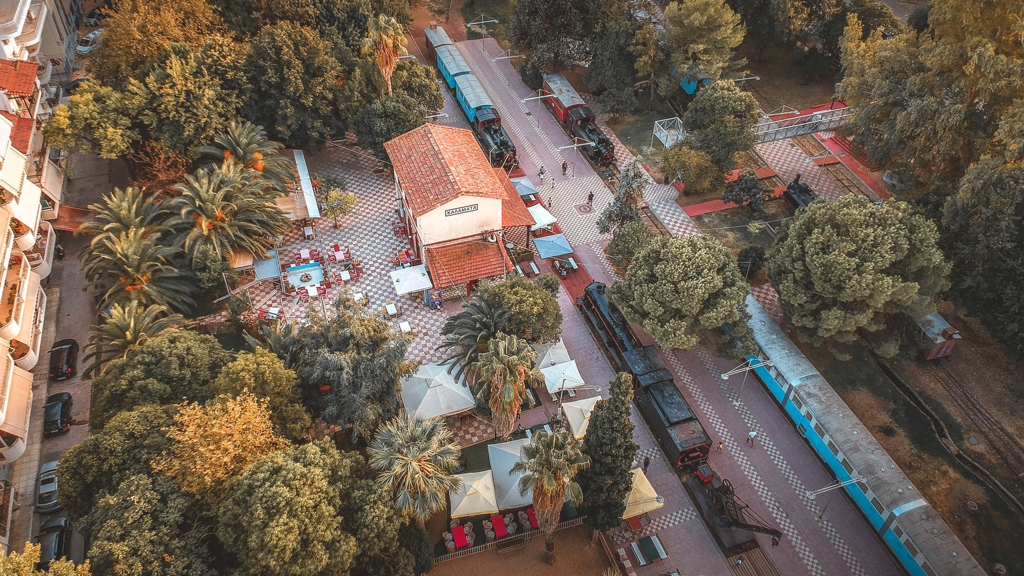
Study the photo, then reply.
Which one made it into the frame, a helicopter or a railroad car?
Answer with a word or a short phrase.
railroad car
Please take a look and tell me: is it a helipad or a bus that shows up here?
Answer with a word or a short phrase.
bus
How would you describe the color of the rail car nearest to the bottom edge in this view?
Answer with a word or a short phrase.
black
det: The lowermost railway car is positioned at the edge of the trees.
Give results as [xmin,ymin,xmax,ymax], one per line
[575,277,667,391]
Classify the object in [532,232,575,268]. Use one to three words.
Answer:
umbrella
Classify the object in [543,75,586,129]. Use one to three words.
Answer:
rail car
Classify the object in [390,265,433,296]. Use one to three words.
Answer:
umbrella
